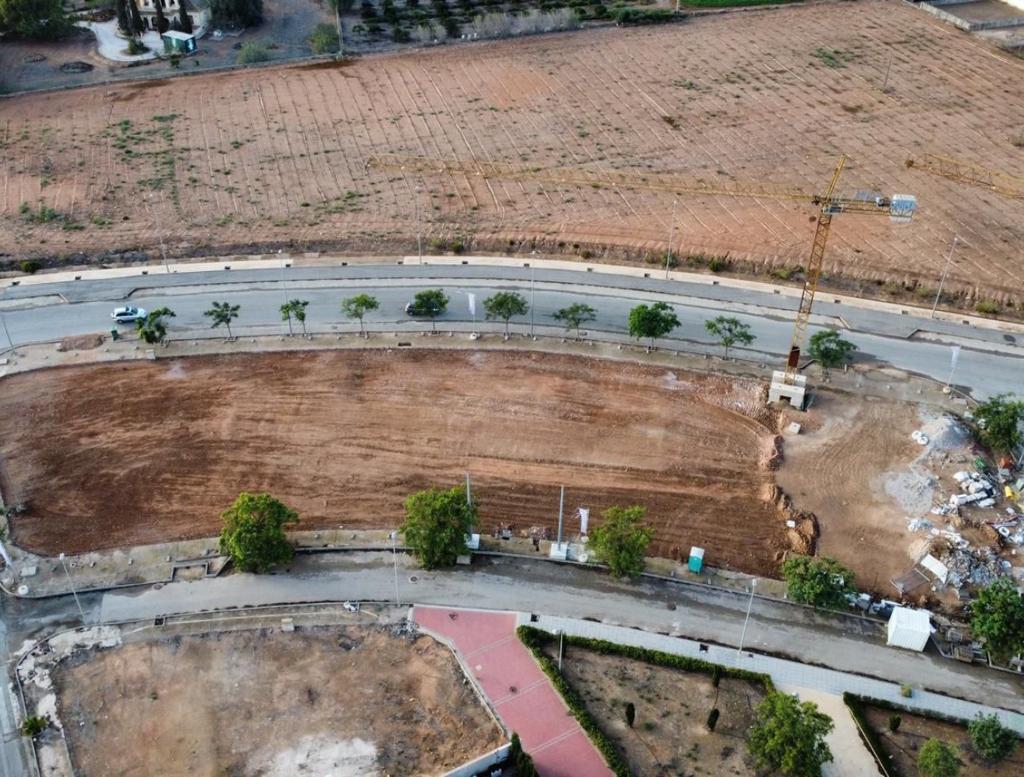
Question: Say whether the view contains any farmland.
Yes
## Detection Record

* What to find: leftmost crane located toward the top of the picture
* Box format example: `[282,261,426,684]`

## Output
[367,154,911,406]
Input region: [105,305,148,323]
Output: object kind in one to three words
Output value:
car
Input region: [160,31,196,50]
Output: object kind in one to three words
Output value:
shed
